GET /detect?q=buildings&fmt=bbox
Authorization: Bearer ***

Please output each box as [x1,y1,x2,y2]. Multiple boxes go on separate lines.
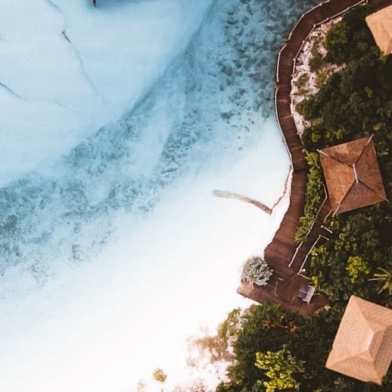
[366,6,392,60]
[326,295,392,386]
[316,136,388,218]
